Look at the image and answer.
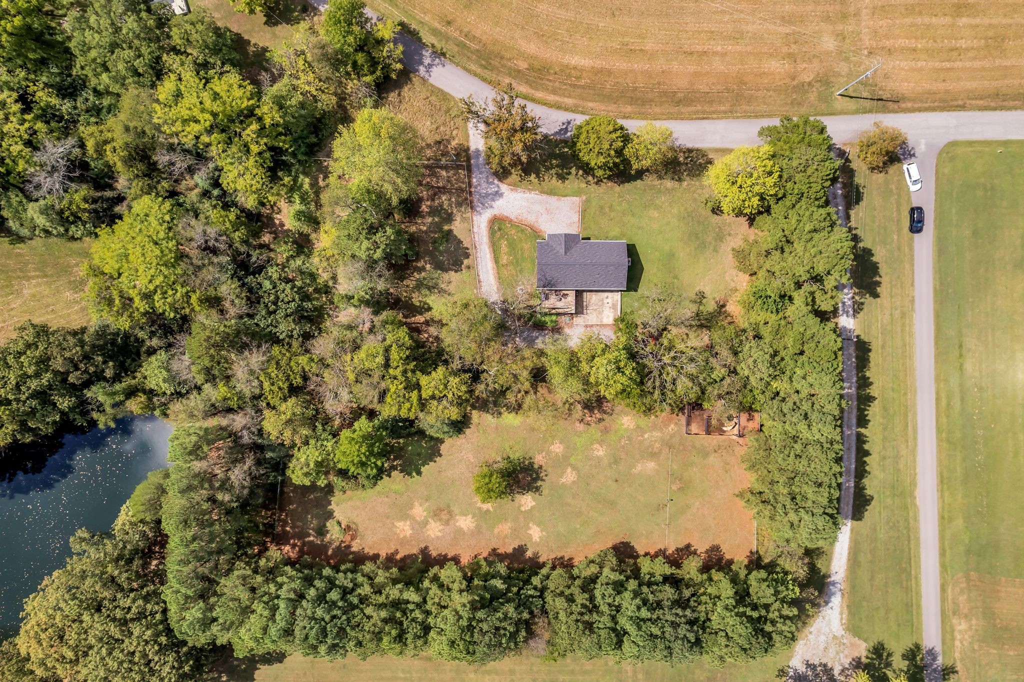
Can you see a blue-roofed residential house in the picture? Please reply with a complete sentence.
No, there appears to be no blue-roofed residential house in this shot.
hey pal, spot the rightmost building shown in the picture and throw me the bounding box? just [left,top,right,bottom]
[537,232,629,290]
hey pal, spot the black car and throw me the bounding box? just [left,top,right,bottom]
[907,206,924,234]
